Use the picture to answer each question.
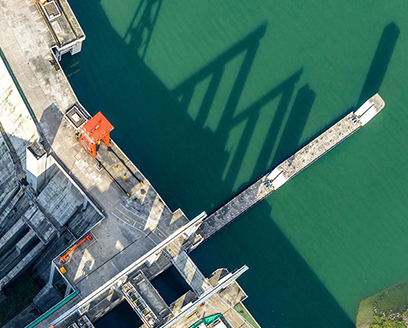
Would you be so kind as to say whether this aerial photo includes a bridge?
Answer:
Yes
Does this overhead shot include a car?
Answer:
No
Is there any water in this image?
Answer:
Yes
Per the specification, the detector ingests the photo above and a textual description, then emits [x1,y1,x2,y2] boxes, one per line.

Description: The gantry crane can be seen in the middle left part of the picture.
[77,107,119,161]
